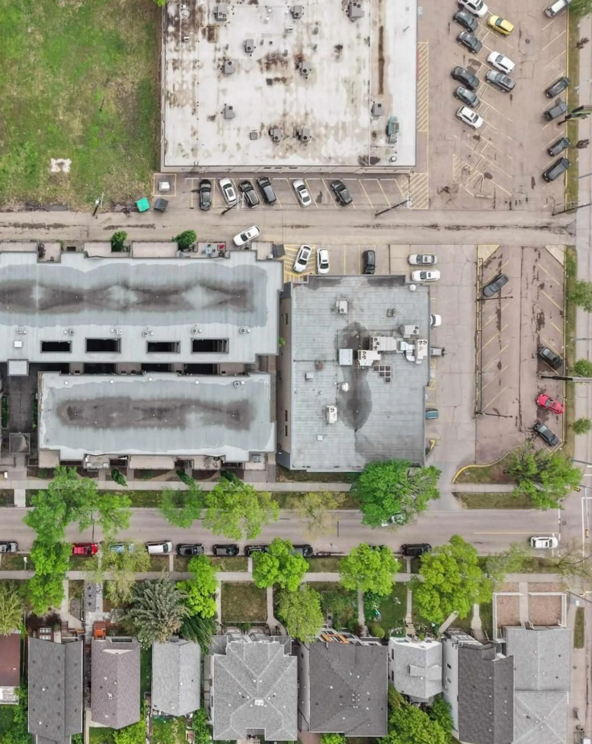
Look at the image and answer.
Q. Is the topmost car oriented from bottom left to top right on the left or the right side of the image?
right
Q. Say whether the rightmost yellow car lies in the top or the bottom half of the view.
top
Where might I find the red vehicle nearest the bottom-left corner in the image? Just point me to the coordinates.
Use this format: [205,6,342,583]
[72,542,97,556]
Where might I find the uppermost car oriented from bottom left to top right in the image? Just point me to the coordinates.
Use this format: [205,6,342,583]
[542,0,570,20]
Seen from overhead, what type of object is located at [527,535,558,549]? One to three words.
car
